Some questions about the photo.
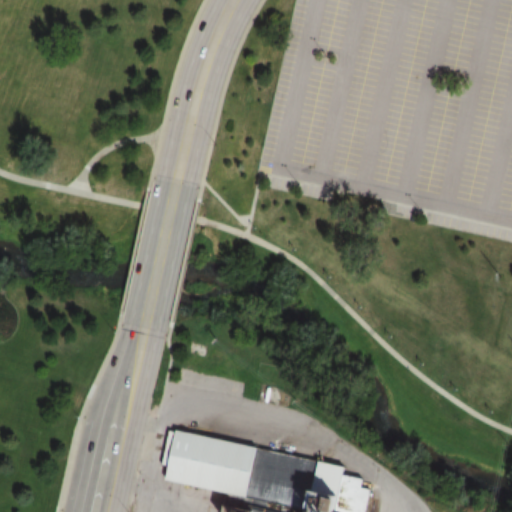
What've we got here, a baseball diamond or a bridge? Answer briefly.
bridge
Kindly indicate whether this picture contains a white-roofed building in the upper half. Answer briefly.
No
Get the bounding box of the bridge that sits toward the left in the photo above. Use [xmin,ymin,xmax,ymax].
[118,176,206,338]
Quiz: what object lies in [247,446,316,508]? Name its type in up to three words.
building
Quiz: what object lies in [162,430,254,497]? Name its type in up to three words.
building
